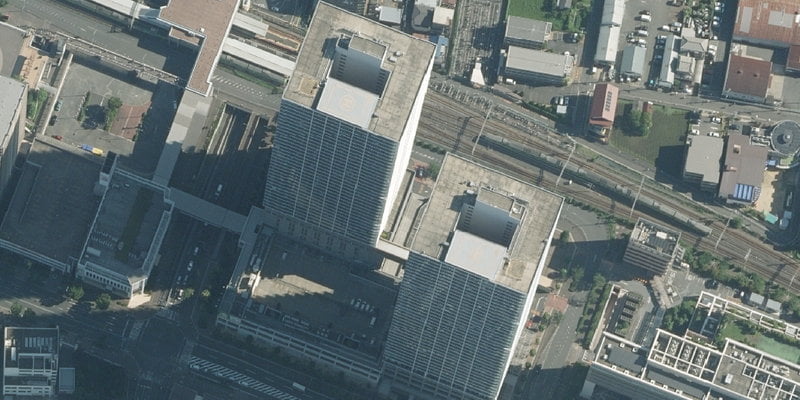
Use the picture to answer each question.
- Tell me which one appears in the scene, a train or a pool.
train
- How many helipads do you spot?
2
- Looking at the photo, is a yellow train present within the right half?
No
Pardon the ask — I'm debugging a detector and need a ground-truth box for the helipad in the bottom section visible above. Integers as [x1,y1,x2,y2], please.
[445,230,507,284]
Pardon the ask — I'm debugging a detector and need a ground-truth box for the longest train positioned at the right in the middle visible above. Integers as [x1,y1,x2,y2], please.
[478,135,712,234]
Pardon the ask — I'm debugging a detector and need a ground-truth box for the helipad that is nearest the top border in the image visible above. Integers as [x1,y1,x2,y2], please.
[317,78,380,130]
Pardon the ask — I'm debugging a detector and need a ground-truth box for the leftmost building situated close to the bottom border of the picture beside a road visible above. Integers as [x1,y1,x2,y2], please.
[2,327,59,400]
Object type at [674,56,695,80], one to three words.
house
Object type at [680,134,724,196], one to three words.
building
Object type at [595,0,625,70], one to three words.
building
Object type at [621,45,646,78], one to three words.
shed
